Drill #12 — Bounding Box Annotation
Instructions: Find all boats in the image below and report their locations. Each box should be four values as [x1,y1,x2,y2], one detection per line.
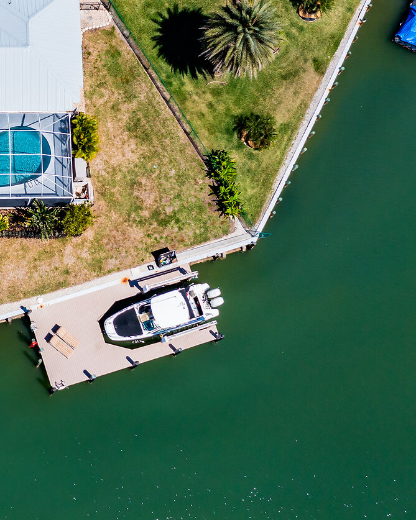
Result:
[390,5,416,52]
[104,286,221,336]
